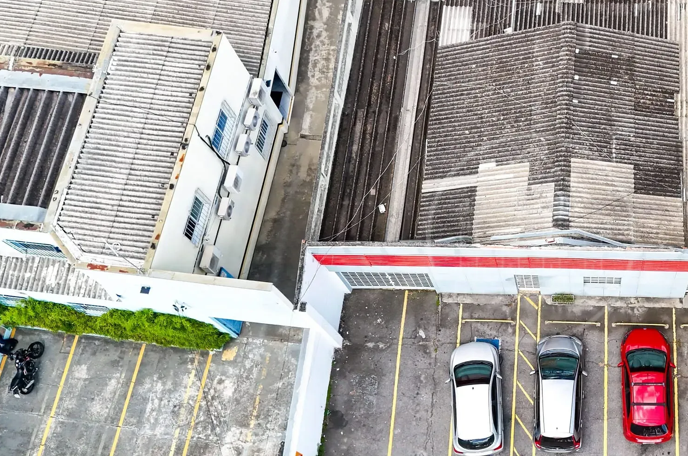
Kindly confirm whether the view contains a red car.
Yes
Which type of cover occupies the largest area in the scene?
buildings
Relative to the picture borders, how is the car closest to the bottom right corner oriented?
from top to bottom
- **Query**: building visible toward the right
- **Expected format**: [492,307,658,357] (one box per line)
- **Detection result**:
[304,0,688,309]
